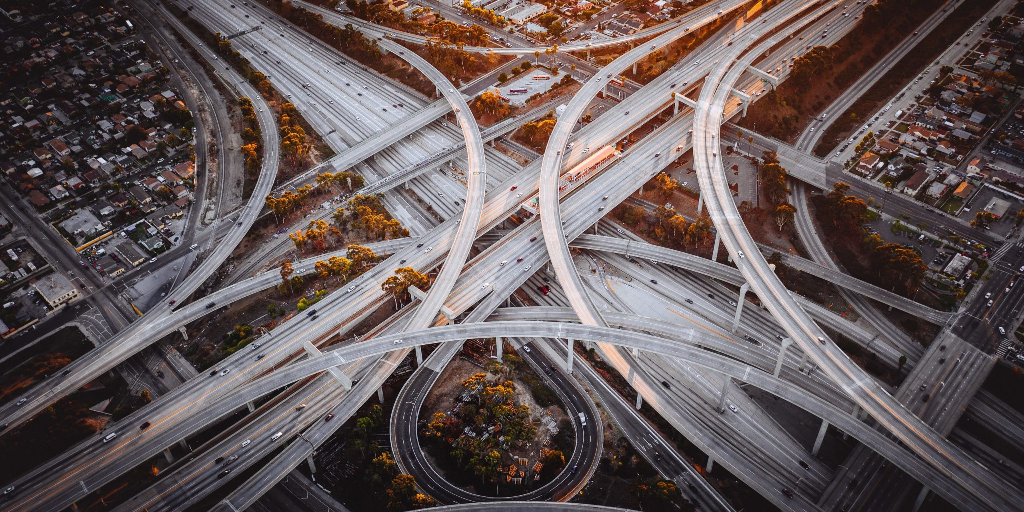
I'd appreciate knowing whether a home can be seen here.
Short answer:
Yes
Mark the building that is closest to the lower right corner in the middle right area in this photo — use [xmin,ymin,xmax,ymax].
[939,250,977,290]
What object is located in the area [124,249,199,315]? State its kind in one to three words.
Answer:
building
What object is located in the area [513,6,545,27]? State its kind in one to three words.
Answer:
house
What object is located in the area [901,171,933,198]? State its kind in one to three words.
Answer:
house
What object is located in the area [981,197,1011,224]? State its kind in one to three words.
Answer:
building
